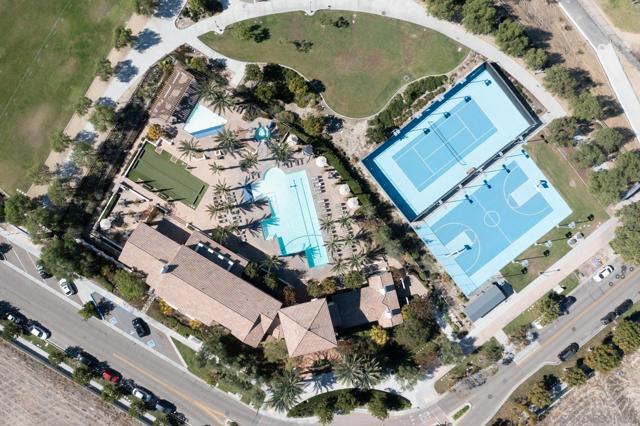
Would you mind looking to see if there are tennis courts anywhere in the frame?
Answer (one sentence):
Yes, I can see a tennis court in this picture.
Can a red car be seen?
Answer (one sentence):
Yes, there's a red car down there.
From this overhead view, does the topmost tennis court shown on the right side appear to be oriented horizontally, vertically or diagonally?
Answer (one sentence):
I'd say the topmost tennis court shown on the right side is aligned diagonally in the picture.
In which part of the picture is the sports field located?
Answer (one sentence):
The sports field sits in the top left section of the image.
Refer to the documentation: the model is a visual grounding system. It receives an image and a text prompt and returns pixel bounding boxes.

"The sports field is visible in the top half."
[0,0,136,194]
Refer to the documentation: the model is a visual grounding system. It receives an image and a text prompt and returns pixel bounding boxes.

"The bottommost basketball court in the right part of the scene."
[411,147,572,296]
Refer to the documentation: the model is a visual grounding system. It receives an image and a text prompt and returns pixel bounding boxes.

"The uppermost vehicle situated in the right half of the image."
[592,264,613,281]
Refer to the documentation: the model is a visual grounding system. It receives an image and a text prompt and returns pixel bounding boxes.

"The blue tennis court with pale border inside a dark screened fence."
[363,64,536,220]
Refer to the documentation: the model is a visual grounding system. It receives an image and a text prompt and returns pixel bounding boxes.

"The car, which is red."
[102,368,123,384]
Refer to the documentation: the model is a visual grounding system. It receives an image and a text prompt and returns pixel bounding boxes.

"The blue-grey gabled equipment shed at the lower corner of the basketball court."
[462,284,506,322]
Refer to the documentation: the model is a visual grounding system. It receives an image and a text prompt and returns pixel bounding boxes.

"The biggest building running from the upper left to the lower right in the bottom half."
[118,222,286,347]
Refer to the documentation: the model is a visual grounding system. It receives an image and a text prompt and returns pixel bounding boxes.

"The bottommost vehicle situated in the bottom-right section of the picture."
[558,343,579,362]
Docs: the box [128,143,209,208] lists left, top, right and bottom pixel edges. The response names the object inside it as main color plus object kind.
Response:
green sports court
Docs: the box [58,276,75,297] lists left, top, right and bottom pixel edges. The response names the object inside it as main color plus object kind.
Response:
white car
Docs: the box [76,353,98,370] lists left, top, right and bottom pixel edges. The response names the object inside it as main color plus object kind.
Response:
black car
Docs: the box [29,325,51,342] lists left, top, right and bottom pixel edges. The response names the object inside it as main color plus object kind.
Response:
white car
